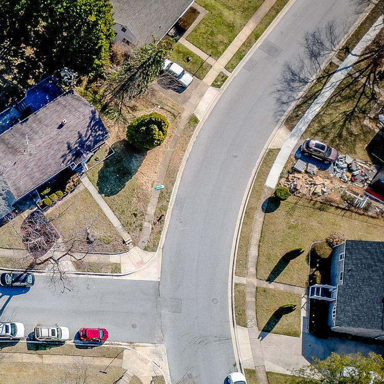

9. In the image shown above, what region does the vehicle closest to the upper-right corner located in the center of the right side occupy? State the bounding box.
[297,138,337,164]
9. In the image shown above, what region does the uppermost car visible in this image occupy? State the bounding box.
[157,56,197,91]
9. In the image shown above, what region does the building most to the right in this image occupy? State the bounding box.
[325,241,384,335]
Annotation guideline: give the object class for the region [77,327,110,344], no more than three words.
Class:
car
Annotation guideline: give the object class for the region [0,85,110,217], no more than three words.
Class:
house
